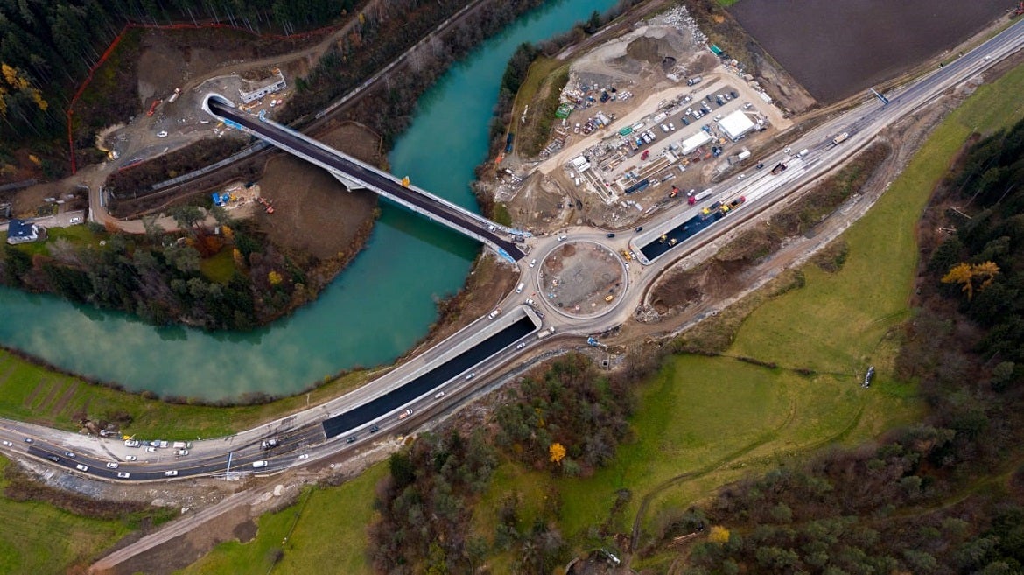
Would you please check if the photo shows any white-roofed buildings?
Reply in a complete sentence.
Yes, a white-roofed building appears in the view.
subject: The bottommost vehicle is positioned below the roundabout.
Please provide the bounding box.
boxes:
[597,543,621,565]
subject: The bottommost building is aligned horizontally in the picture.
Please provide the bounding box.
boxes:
[0,222,50,250]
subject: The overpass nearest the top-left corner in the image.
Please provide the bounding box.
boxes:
[85,172,108,220]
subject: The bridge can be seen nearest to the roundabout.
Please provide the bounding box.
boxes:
[222,103,536,266]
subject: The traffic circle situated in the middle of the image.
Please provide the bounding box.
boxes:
[525,229,640,330]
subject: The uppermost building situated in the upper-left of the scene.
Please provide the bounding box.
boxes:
[240,76,286,101]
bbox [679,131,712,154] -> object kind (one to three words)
building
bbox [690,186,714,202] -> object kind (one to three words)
vehicle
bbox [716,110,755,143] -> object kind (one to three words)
building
